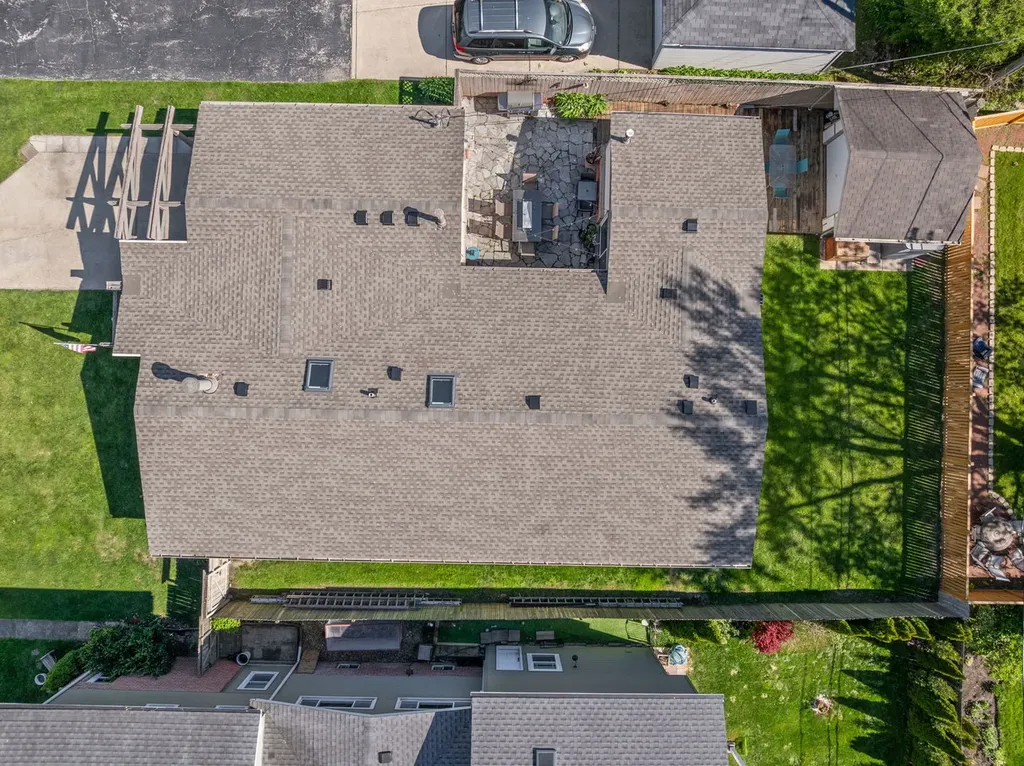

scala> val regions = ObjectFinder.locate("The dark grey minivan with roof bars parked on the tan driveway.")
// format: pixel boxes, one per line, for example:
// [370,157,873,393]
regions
[452,0,596,62]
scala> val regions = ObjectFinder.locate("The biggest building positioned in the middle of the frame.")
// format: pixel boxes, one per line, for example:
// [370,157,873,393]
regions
[108,99,769,571]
